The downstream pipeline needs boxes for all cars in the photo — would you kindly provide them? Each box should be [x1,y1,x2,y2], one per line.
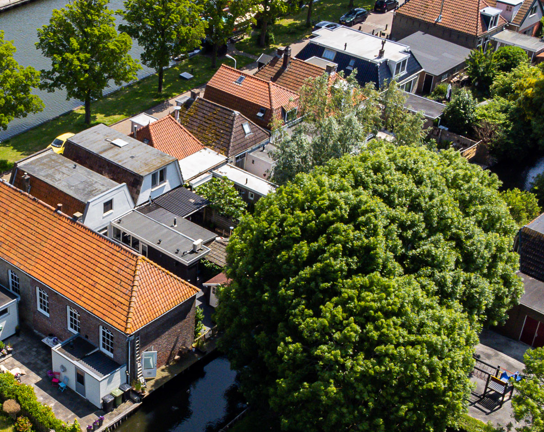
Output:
[303,20,336,40]
[336,4,369,25]
[49,130,80,155]
[373,0,398,11]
